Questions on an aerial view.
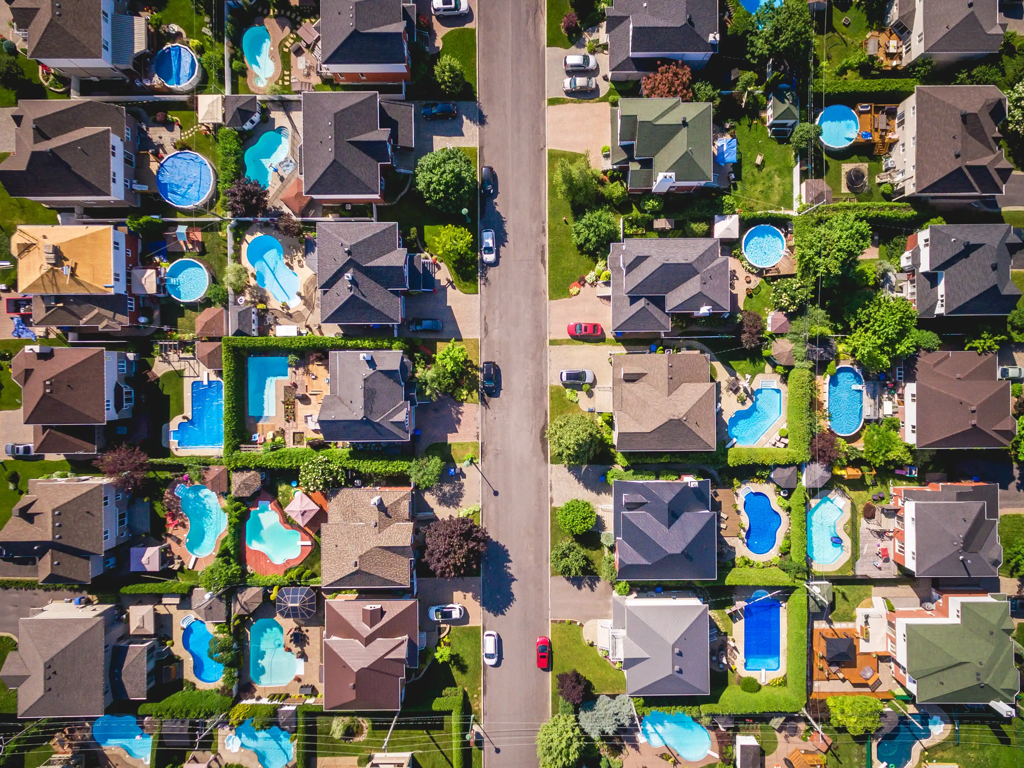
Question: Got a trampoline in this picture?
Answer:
Yes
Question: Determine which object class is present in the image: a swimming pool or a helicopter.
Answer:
swimming pool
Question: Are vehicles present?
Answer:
Yes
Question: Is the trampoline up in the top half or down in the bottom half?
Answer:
top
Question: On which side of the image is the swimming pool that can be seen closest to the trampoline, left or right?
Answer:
right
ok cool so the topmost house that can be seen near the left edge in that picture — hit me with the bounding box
[3,0,126,77]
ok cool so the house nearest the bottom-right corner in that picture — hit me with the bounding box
[885,588,1024,716]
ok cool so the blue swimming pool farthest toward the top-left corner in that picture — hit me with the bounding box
[154,44,199,89]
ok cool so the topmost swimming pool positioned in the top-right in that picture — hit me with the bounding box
[719,0,782,28]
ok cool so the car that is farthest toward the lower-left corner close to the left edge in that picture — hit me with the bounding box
[6,442,35,457]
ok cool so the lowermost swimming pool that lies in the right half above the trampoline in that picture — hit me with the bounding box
[816,106,863,149]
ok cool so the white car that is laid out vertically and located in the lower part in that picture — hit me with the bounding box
[482,630,497,665]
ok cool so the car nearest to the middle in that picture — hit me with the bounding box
[482,360,497,391]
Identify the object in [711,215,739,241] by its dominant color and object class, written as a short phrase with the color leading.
white gazebo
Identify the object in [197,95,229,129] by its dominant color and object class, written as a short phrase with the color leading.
white gazebo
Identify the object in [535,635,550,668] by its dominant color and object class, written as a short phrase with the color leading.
red car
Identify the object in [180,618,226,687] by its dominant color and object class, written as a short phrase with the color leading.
blue swimming pool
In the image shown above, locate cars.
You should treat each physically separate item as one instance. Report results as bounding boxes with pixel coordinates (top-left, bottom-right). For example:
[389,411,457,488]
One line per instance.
[559,370,594,383]
[567,322,602,337]
[6,442,35,457]
[433,0,468,16]
[481,230,496,265]
[1007,597,1024,612]
[563,56,596,72]
[562,76,596,93]
[480,166,495,196]
[482,630,497,665]
[998,365,1024,380]
[482,360,497,391]
[409,318,442,332]
[535,635,550,668]
[429,604,464,620]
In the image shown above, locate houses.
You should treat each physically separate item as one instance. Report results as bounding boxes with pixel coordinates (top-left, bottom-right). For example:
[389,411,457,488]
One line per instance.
[612,591,710,696]
[613,476,717,579]
[0,607,158,718]
[610,98,713,199]
[372,745,413,768]
[888,0,1008,72]
[321,489,418,588]
[323,595,420,711]
[605,0,719,81]
[319,351,419,442]
[904,224,1024,318]
[316,222,423,325]
[0,477,128,583]
[0,99,148,208]
[895,351,1018,449]
[885,588,1024,716]
[11,346,130,454]
[894,85,1023,205]
[607,238,730,332]
[320,0,418,83]
[3,0,126,77]
[612,352,716,451]
[892,483,1003,577]
[10,225,150,331]
[298,91,415,206]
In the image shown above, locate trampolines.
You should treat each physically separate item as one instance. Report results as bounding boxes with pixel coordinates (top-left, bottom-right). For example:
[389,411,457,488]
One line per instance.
[842,164,871,188]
